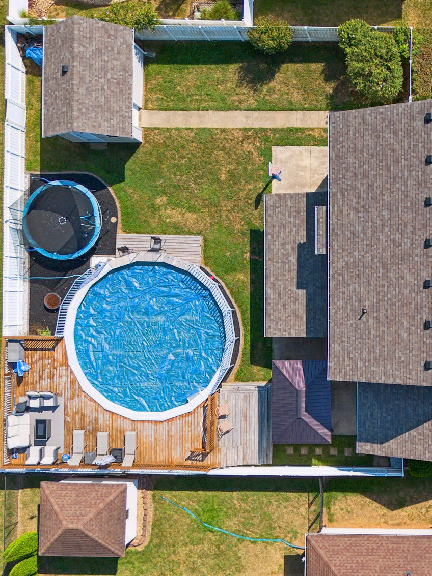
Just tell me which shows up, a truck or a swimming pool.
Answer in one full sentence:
Of the two, only a swimming pool appears.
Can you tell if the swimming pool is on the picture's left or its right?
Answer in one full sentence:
The swimming pool is on the left side of the image.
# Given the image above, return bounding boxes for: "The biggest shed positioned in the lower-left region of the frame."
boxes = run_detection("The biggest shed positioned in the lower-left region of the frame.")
[39,478,137,558]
